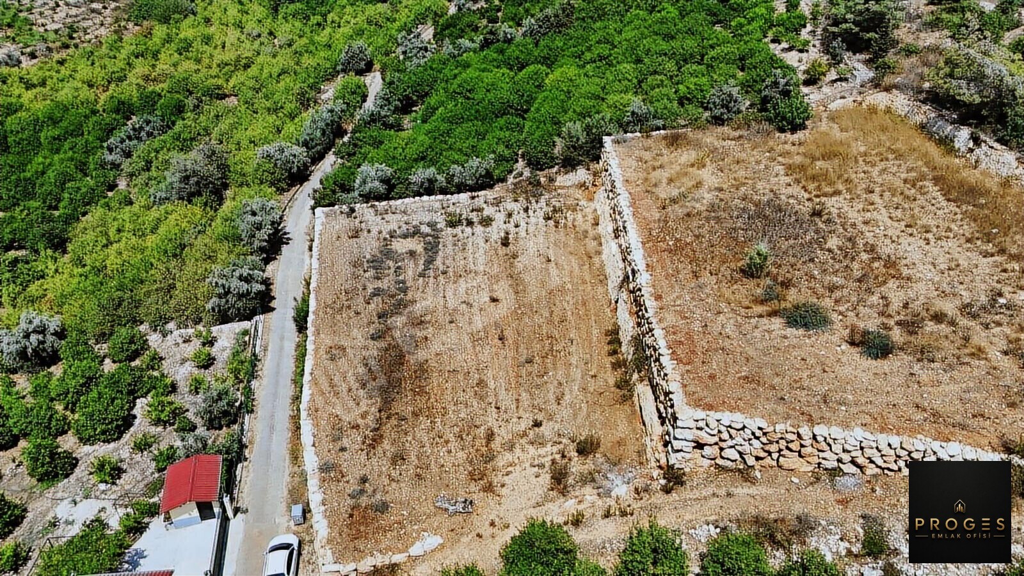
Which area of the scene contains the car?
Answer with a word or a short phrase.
bottom left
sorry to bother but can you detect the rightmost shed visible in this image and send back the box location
[160,454,224,530]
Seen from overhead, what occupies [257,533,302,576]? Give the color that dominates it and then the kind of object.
white car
